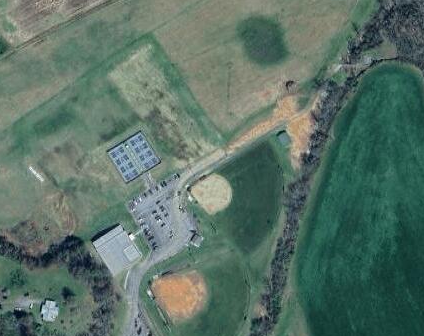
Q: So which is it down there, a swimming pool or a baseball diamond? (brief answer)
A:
baseball diamond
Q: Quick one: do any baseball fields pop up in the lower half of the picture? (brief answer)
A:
Yes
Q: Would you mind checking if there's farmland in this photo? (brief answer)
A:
Yes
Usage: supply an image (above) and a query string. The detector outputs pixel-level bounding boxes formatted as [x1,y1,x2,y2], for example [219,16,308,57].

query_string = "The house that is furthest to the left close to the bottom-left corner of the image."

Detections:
[41,300,59,321]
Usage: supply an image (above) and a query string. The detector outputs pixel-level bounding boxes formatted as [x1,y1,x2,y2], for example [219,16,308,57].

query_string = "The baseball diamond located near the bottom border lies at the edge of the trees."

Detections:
[146,252,250,336]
